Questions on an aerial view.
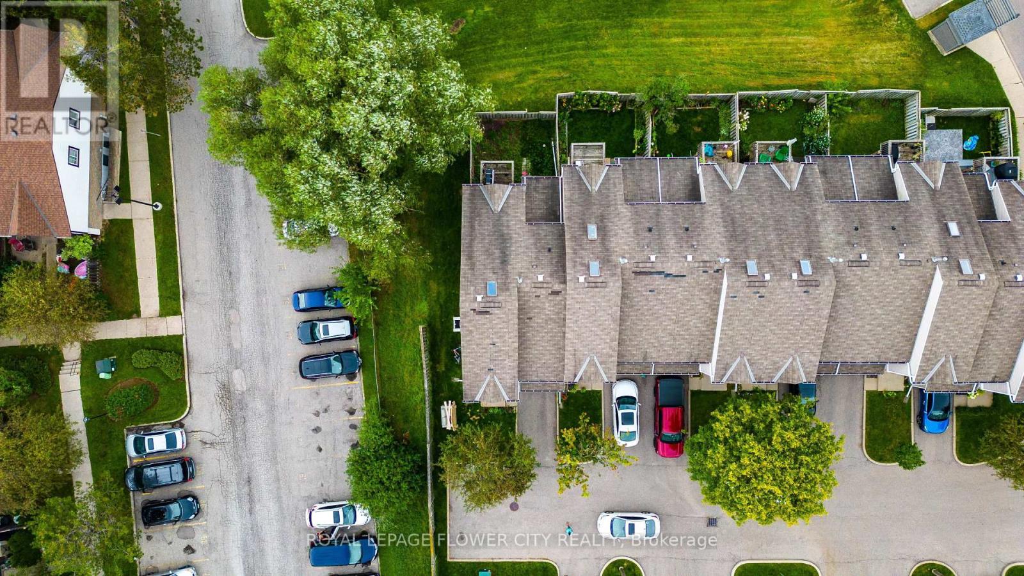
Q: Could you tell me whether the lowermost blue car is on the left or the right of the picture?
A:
left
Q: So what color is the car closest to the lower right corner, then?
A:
blue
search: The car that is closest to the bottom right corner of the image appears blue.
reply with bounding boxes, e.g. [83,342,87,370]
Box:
[917,387,954,432]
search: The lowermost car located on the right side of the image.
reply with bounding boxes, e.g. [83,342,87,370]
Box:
[597,509,660,541]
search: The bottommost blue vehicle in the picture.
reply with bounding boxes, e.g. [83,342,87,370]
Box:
[308,531,380,567]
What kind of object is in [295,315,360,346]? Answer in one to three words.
car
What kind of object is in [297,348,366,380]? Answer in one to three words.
car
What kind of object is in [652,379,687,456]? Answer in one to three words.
truck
